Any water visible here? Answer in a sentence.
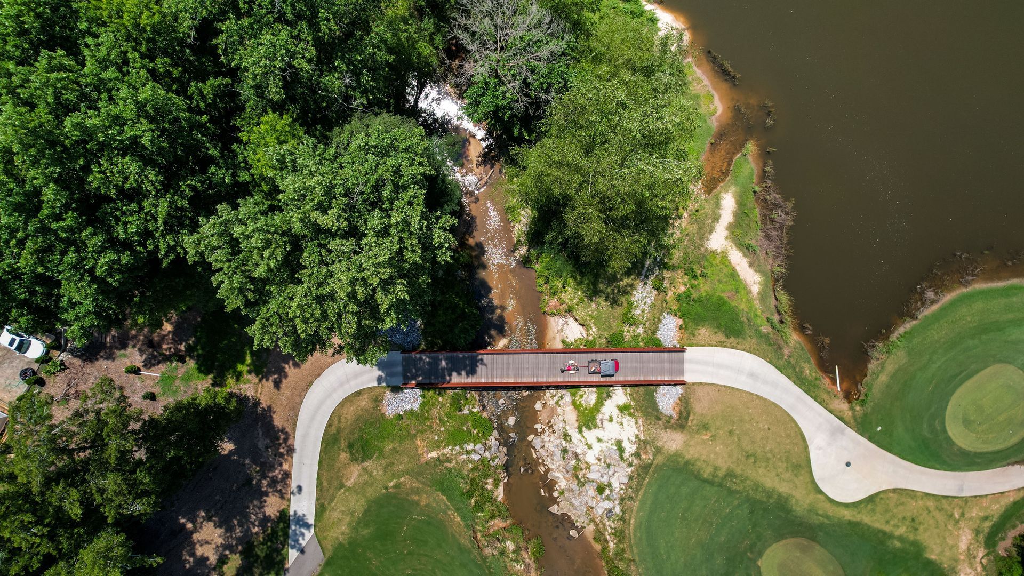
Yes, water shows up in the scene.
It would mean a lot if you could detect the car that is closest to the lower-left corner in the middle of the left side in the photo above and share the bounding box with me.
[0,327,43,359]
